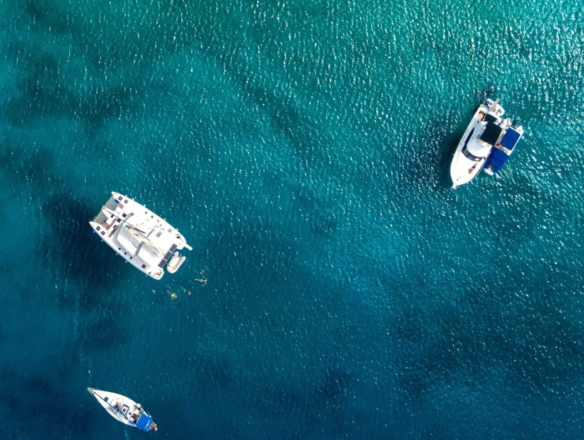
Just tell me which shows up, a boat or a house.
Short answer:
boat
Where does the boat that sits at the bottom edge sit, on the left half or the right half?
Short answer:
left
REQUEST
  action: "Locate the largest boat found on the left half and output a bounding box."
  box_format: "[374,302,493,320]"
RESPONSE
[89,191,192,280]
